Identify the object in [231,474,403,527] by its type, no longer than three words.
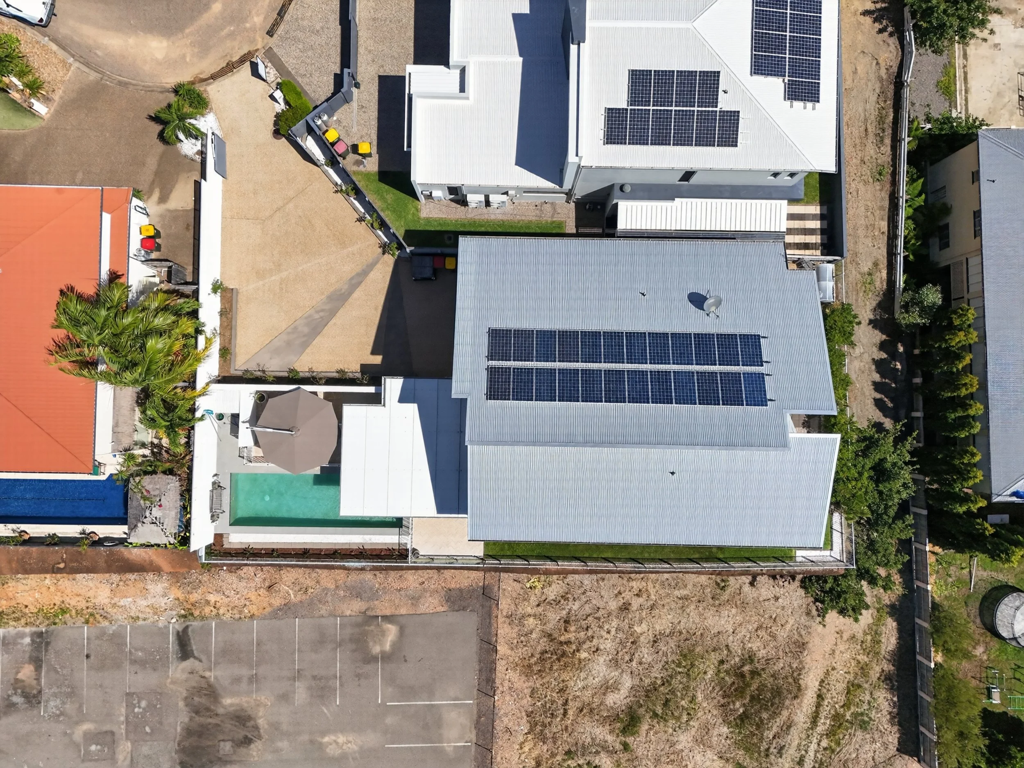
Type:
swimming pool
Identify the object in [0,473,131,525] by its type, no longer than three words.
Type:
swimming pool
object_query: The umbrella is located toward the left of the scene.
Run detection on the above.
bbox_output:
[244,387,339,475]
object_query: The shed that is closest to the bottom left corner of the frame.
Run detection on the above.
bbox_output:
[124,469,191,546]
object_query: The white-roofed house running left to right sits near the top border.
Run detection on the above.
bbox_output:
[404,0,841,213]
